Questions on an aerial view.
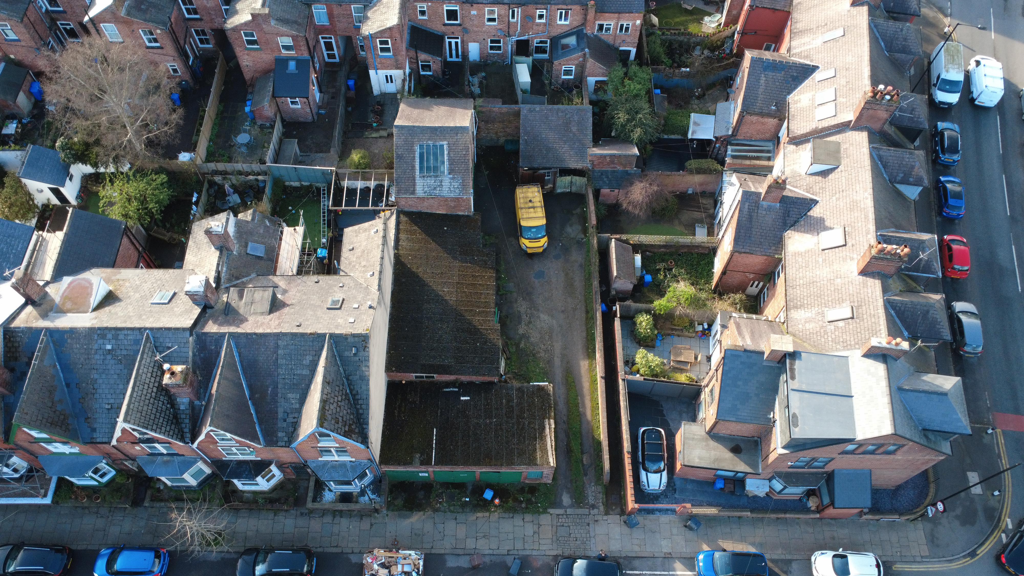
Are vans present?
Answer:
Yes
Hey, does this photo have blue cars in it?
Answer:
Yes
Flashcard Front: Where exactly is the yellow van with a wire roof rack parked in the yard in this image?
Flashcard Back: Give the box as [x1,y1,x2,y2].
[516,181,551,255]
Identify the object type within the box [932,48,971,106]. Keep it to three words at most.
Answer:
van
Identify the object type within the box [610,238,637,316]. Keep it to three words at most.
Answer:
shed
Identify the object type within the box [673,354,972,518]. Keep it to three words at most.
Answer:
house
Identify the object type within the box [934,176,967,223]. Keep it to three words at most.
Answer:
car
